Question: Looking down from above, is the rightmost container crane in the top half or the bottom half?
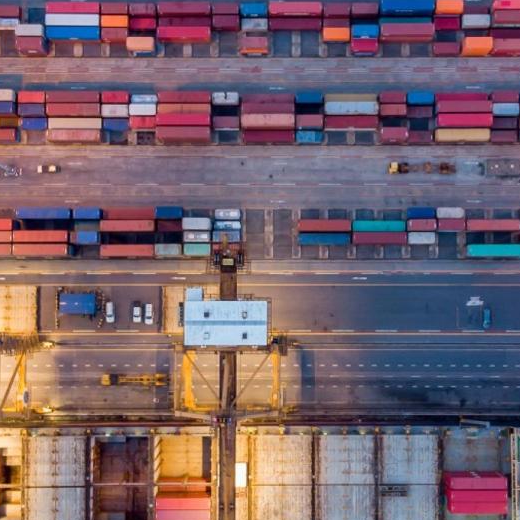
bottom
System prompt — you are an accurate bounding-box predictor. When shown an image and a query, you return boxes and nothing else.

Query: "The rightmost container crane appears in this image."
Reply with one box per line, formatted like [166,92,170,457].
[167,231,300,520]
